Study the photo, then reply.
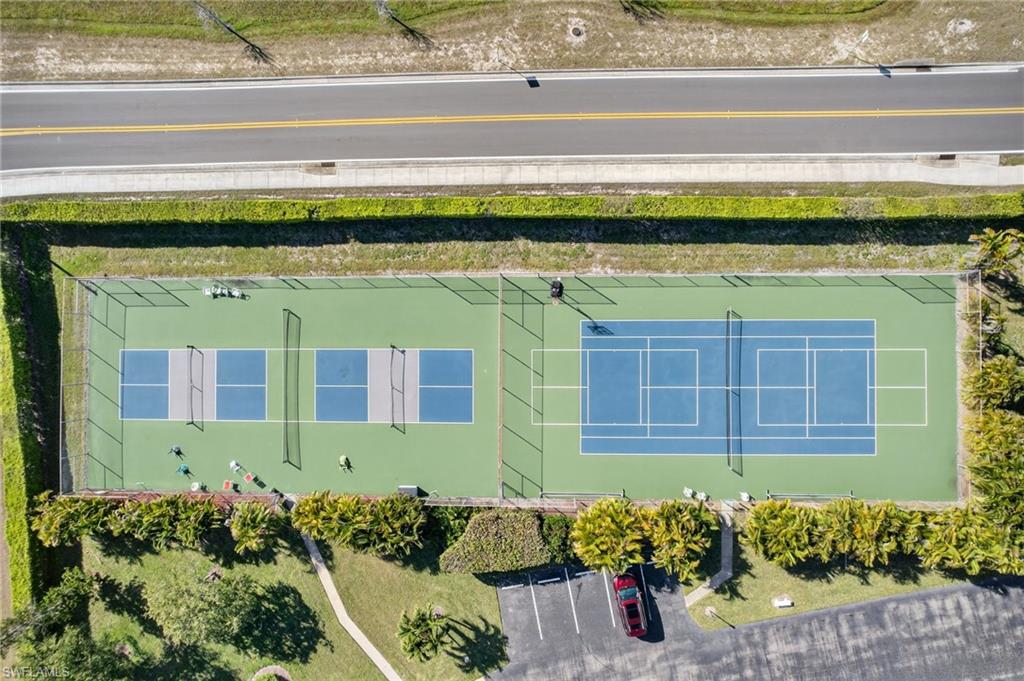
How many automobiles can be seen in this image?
1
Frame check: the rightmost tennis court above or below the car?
above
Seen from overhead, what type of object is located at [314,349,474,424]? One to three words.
sports court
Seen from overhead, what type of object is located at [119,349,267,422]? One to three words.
sports court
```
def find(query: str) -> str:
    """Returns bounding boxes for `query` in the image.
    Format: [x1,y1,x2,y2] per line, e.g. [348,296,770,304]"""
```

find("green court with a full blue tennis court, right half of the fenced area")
[501,275,959,502]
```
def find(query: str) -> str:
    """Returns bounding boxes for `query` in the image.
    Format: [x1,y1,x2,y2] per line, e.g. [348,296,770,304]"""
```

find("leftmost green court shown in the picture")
[87,277,500,498]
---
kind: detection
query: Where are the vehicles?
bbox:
[615,571,647,638]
